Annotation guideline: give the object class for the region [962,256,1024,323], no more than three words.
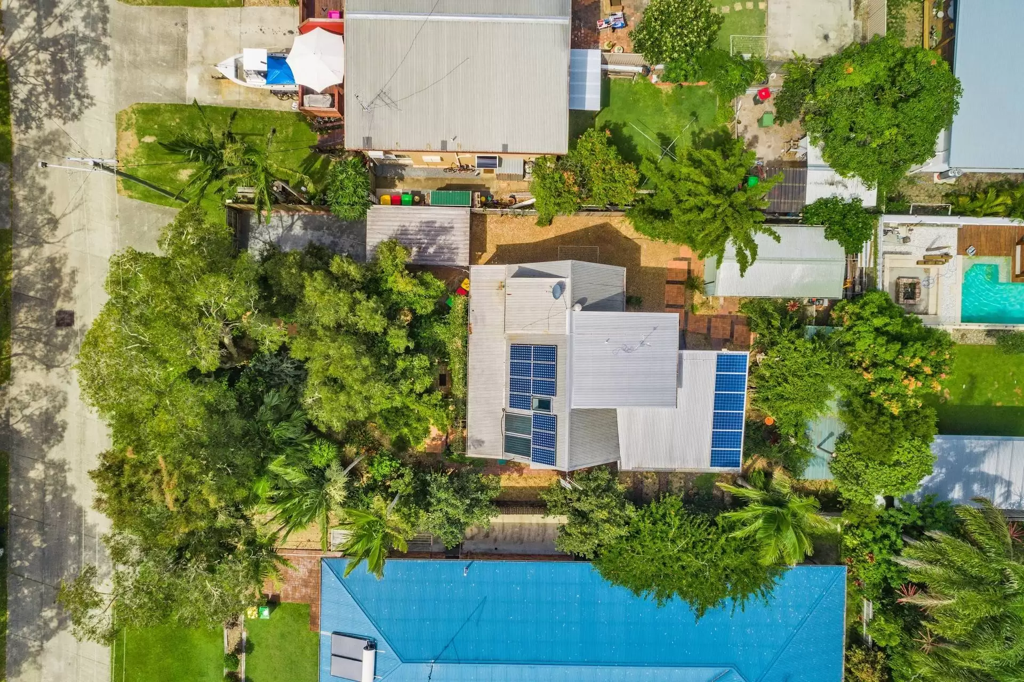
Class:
swimming pool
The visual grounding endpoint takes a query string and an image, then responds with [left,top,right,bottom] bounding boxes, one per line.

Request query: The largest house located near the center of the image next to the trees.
[465,259,751,474]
